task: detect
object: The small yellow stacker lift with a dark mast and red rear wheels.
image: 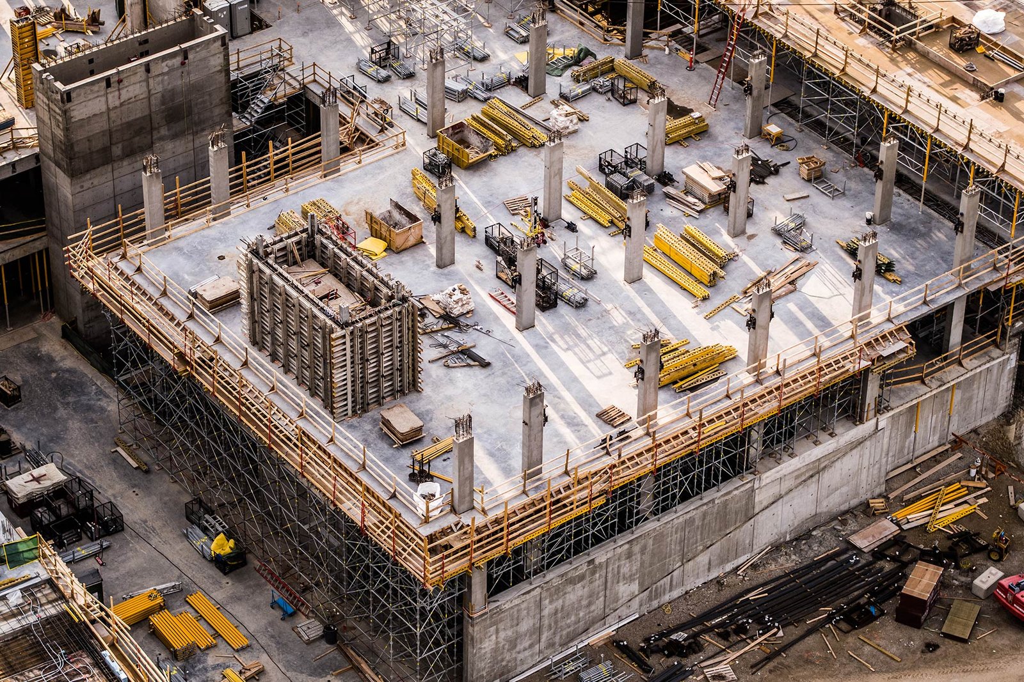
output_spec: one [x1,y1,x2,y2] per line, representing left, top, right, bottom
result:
[516,199,549,248]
